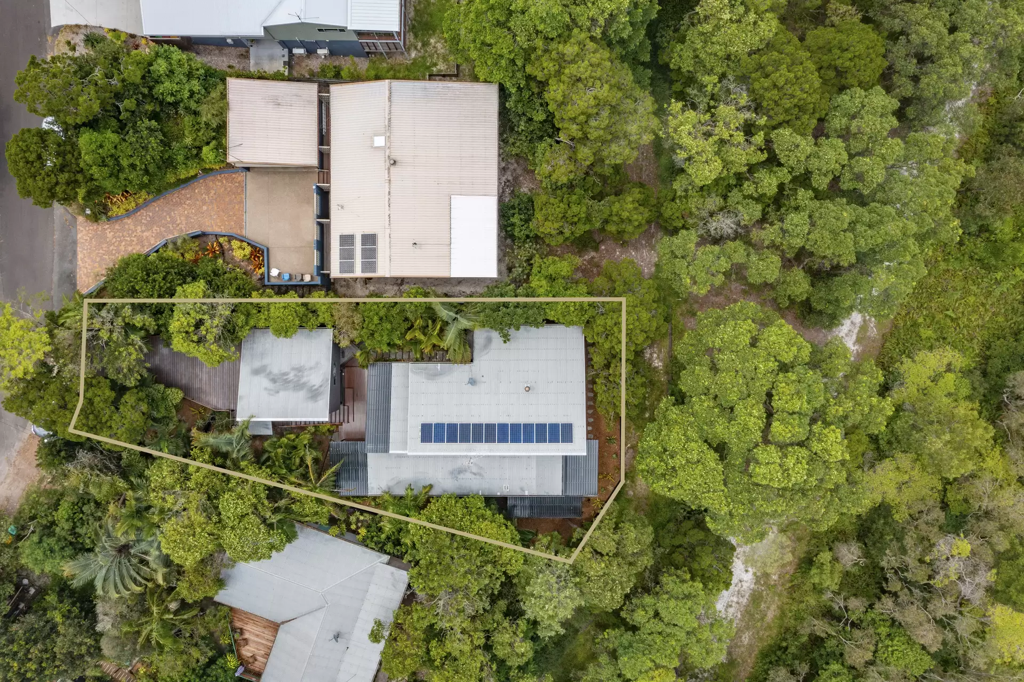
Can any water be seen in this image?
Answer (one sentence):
No, there is no water in the image.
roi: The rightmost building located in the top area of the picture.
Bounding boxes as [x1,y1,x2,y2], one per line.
[329,79,500,278]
